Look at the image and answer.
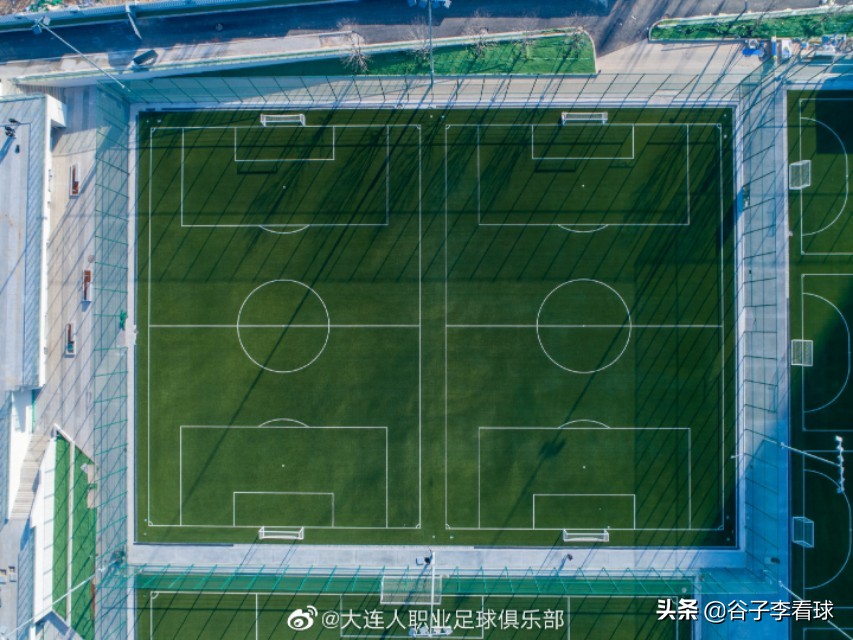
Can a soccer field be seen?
Yes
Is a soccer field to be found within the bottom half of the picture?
Yes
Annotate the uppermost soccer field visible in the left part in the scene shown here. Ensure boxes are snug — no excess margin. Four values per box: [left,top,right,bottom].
[135,110,433,542]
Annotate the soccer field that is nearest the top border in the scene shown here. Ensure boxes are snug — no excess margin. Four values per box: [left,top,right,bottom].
[788,88,853,264]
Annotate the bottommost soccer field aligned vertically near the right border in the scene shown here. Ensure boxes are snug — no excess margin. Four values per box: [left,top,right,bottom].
[790,441,853,618]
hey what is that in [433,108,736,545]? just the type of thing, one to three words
soccer field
